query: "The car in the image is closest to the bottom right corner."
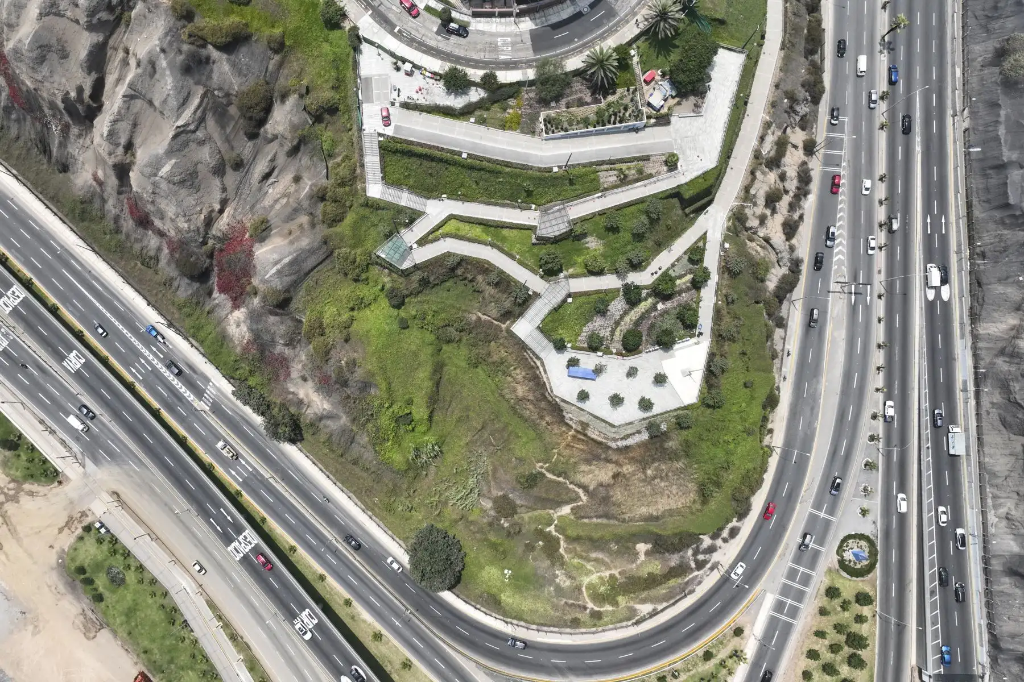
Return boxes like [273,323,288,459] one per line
[940,644,952,666]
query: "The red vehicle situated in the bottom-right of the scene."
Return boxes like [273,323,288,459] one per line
[762,500,776,521]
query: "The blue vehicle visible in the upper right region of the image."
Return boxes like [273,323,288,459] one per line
[887,64,899,85]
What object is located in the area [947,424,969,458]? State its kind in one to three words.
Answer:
truck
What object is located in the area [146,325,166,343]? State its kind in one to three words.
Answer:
vehicle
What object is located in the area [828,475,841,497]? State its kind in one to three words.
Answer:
vehicle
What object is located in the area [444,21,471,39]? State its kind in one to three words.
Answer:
car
